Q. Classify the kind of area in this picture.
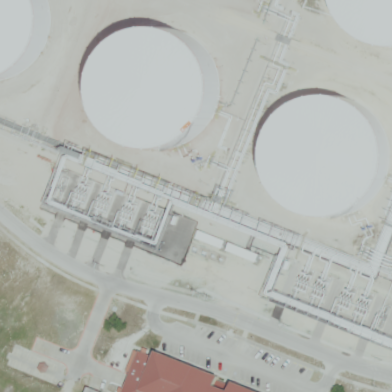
industrial area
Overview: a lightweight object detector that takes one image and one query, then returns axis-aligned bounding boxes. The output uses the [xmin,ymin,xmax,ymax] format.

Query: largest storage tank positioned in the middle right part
[254,92,390,218]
